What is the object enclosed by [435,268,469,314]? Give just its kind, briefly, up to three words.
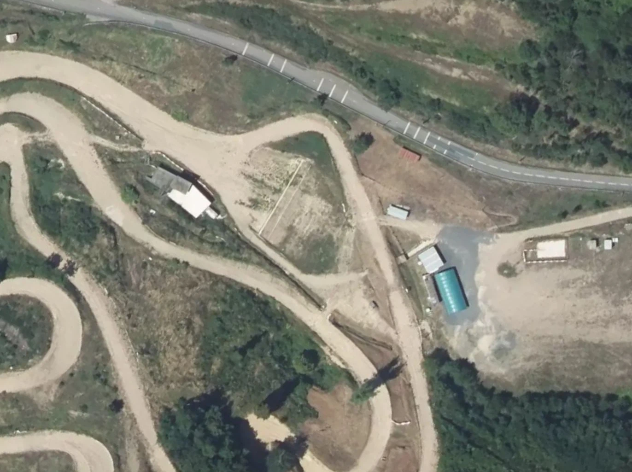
building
